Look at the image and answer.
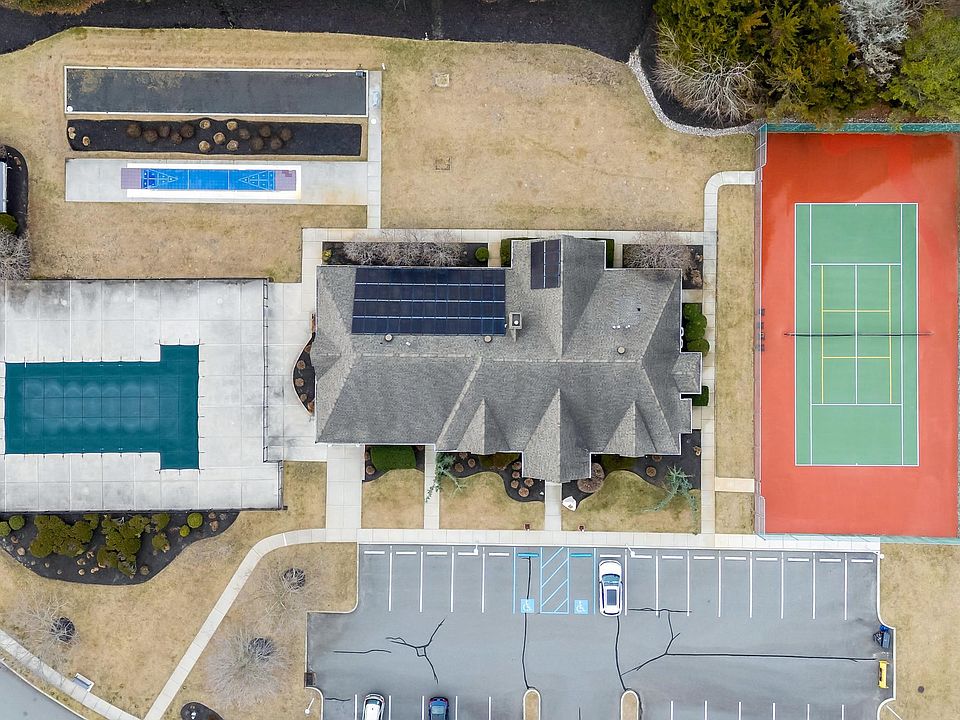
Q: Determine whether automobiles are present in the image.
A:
Yes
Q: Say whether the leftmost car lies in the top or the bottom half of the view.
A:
bottom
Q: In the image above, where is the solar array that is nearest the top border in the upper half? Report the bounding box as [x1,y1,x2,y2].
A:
[532,239,561,290]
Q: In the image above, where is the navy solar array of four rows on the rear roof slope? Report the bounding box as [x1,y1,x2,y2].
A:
[351,268,506,335]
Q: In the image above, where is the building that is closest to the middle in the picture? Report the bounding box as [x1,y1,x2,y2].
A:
[311,233,703,484]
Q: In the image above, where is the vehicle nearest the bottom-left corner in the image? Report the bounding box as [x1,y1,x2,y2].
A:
[362,689,385,720]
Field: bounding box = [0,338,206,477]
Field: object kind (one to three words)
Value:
swimming pool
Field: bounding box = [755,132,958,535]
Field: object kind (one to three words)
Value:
tennis court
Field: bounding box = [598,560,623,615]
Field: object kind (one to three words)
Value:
car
